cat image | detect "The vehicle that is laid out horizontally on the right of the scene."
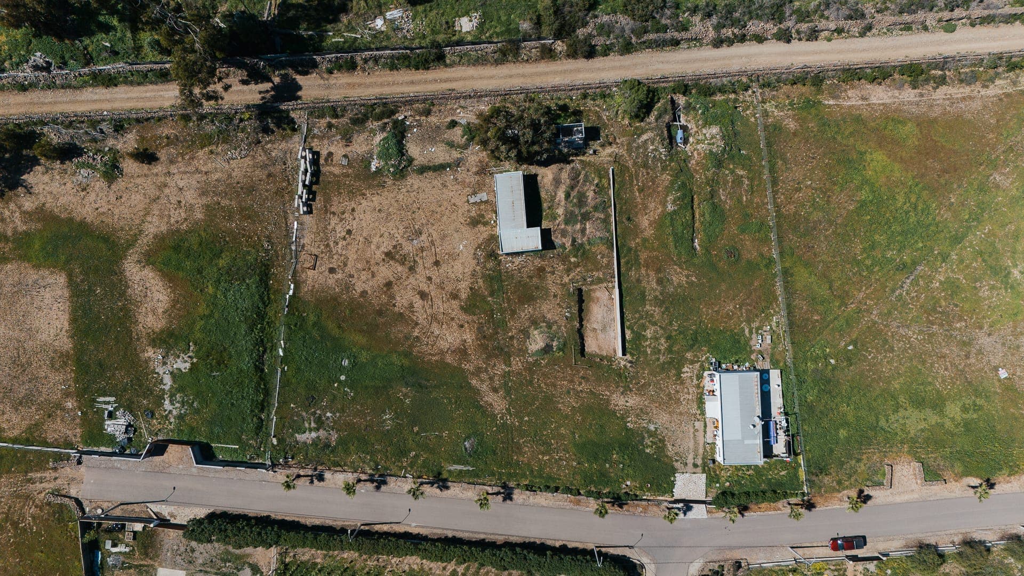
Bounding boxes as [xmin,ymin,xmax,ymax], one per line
[829,536,867,554]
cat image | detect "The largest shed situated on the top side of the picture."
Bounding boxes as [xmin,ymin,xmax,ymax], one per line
[495,171,542,254]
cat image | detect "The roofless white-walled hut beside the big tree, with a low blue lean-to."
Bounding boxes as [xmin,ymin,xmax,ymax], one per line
[553,123,585,151]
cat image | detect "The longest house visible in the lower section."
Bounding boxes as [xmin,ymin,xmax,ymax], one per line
[712,369,765,466]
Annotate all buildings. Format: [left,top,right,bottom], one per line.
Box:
[553,123,585,151]
[495,171,542,254]
[712,369,765,466]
